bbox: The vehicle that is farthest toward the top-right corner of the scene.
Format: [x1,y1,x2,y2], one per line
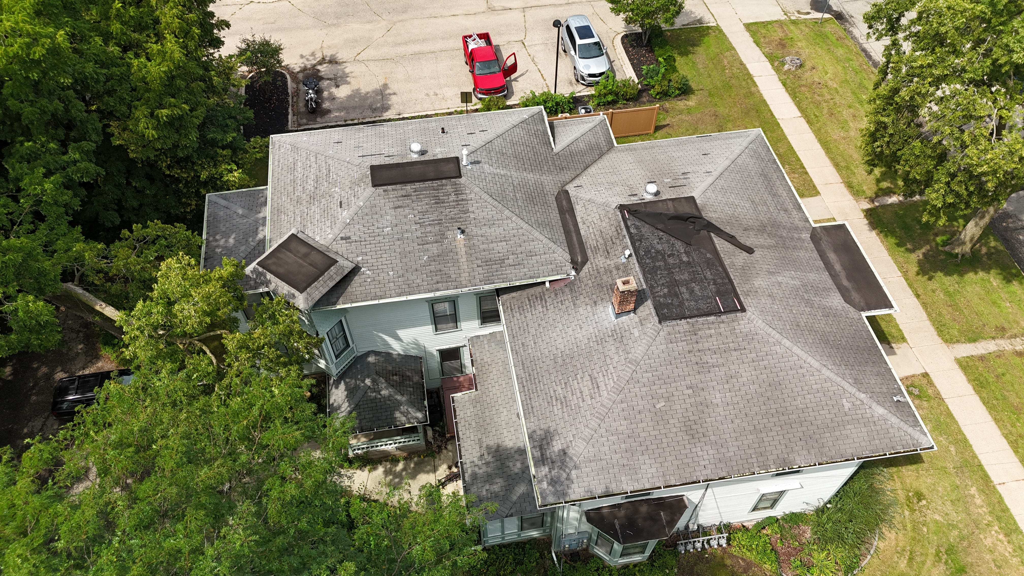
[562,19,615,87]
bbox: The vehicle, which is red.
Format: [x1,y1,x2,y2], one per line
[463,36,521,103]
